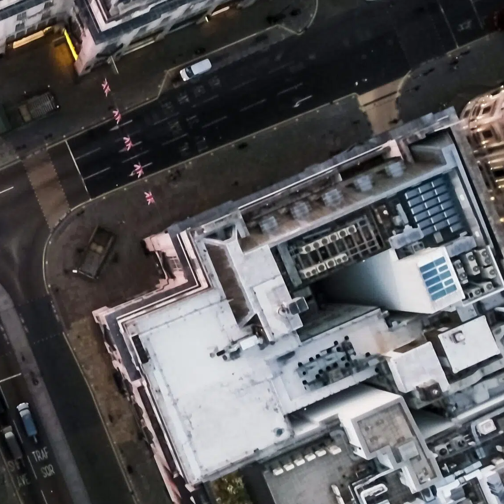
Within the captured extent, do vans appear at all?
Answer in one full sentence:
Yes, there is a van in the image.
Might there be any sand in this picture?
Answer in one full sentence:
No, there is no sand in the image.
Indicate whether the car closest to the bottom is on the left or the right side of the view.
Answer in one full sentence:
It is on the left.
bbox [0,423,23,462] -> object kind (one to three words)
car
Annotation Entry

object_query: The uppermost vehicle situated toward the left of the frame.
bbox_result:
[176,54,218,84]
